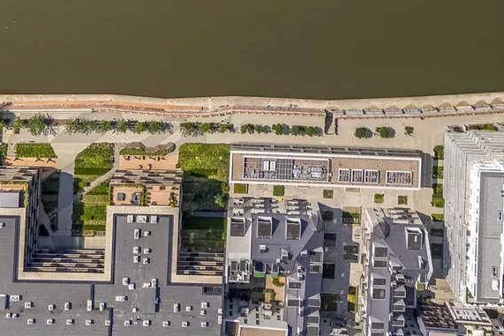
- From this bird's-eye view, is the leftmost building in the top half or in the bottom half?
bottom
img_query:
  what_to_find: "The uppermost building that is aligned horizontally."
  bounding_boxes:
[230,140,421,189]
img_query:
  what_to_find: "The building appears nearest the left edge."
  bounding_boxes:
[0,161,225,336]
